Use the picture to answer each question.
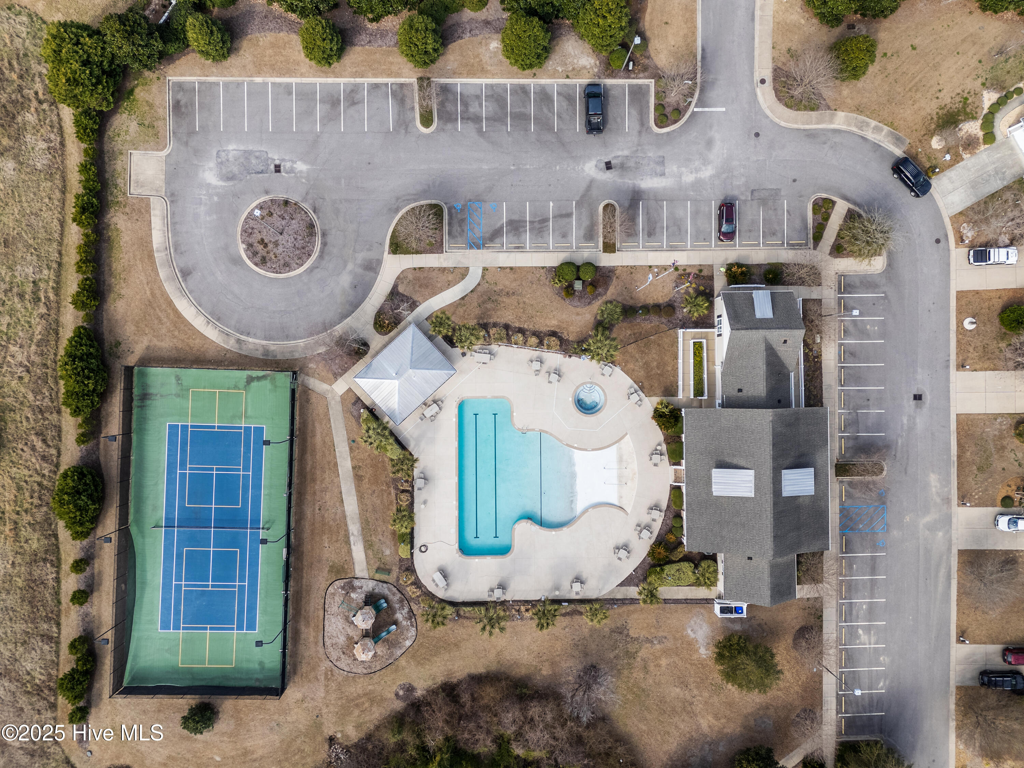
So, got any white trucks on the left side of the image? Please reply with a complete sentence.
No, looking on the left side of the image, there is no white truck.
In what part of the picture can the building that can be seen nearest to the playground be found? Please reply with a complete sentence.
You can find the building that can be seen nearest to the playground in the center area of the picture.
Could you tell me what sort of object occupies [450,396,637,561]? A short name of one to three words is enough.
swimming pool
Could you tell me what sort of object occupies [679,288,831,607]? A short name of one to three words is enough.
building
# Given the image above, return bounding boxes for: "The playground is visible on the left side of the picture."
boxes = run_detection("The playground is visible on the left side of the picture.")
[340,595,396,658]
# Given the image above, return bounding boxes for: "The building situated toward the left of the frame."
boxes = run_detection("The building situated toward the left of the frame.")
[353,323,457,426]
